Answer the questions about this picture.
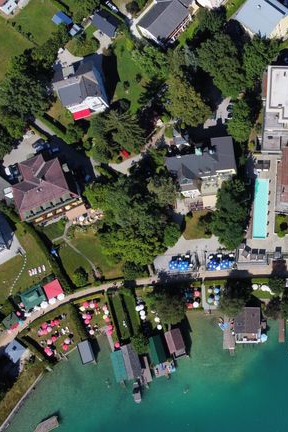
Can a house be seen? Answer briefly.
Yes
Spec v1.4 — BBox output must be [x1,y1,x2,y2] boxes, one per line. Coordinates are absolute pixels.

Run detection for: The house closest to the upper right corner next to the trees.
[236,0,288,40]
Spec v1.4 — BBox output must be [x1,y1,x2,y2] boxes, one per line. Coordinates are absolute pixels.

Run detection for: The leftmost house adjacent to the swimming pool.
[165,136,238,208]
